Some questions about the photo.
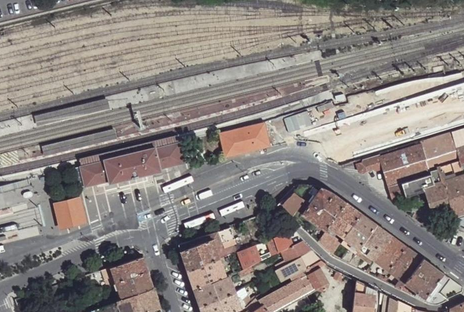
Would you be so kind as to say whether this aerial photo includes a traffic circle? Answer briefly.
No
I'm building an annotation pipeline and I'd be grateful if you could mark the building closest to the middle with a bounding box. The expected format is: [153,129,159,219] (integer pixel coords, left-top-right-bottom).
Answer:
[219,122,272,160]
